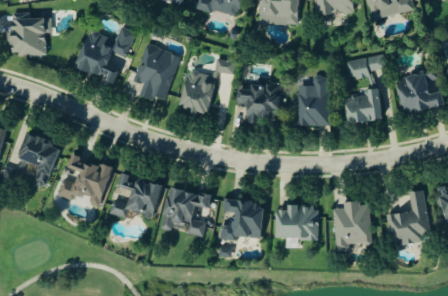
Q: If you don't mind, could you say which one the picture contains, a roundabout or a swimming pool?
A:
swimming pool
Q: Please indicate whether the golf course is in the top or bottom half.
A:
bottom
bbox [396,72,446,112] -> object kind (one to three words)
house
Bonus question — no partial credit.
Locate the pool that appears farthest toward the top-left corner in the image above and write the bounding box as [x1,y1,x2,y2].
[56,14,74,33]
